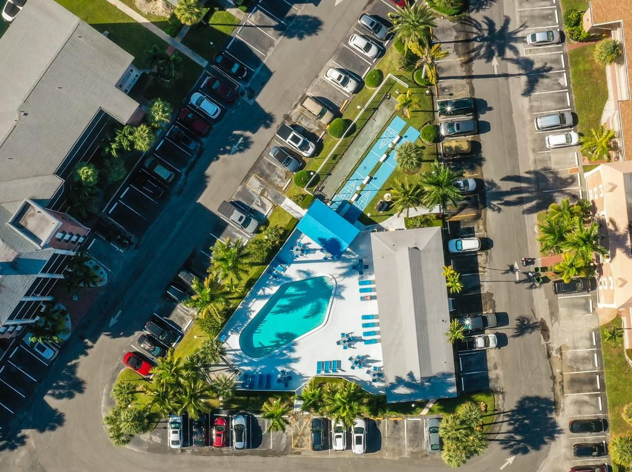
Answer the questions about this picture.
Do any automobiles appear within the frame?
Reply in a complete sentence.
Yes, there's an automobile down there.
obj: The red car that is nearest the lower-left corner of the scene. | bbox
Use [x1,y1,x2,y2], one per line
[122,349,153,378]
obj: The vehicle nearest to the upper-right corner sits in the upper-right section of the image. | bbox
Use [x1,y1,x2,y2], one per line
[525,29,561,47]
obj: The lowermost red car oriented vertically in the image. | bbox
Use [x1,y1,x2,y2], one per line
[211,415,227,450]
